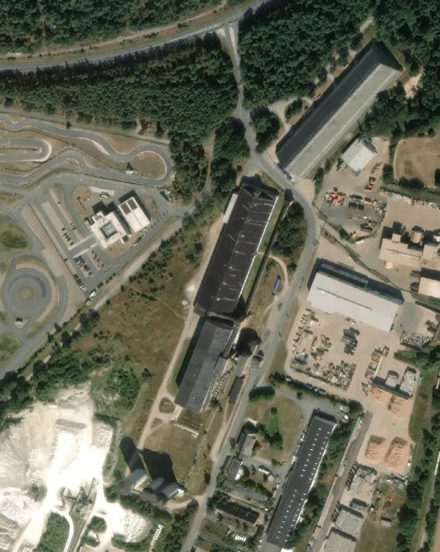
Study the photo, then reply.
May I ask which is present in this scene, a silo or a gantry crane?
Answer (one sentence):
Of the two, only a silo appears.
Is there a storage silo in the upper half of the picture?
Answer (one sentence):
No, I see no storage silo in the upper half of the picture.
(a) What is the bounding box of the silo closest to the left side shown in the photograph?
[118,467,150,499]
